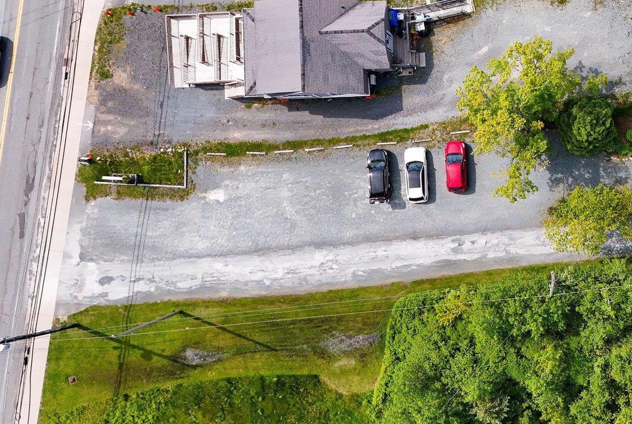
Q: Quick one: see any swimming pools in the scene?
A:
No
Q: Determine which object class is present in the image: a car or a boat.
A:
car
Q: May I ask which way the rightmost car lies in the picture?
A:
vertically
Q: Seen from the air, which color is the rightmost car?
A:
red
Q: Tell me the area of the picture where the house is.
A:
top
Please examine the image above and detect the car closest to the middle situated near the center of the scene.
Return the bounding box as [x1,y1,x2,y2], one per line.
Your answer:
[365,148,393,204]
